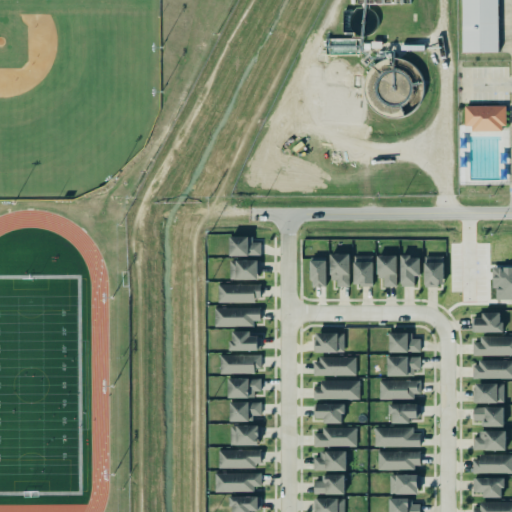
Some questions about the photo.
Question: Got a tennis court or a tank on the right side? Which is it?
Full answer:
The one visible on the right side is a tank.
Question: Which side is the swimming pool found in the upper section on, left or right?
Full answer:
You can find the swimming pool found in the upper section on the right side of the picture.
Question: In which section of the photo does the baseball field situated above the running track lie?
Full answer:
The baseball field situated above the running track is located in the top left region of the scene.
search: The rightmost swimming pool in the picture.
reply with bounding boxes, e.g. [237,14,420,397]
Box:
[460,126,510,185]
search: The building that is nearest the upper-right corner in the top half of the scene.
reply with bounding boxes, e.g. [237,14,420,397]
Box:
[462,0,500,52]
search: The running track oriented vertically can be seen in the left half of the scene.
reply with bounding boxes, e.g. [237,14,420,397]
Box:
[0,210,110,512]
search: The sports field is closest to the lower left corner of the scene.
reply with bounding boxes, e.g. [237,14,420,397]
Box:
[0,227,92,504]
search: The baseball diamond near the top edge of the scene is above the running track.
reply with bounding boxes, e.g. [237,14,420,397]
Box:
[0,0,160,198]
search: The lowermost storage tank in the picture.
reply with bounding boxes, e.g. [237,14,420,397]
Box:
[366,58,425,117]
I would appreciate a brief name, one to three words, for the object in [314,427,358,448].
house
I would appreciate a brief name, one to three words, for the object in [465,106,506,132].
building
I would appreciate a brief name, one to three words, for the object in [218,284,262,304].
house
